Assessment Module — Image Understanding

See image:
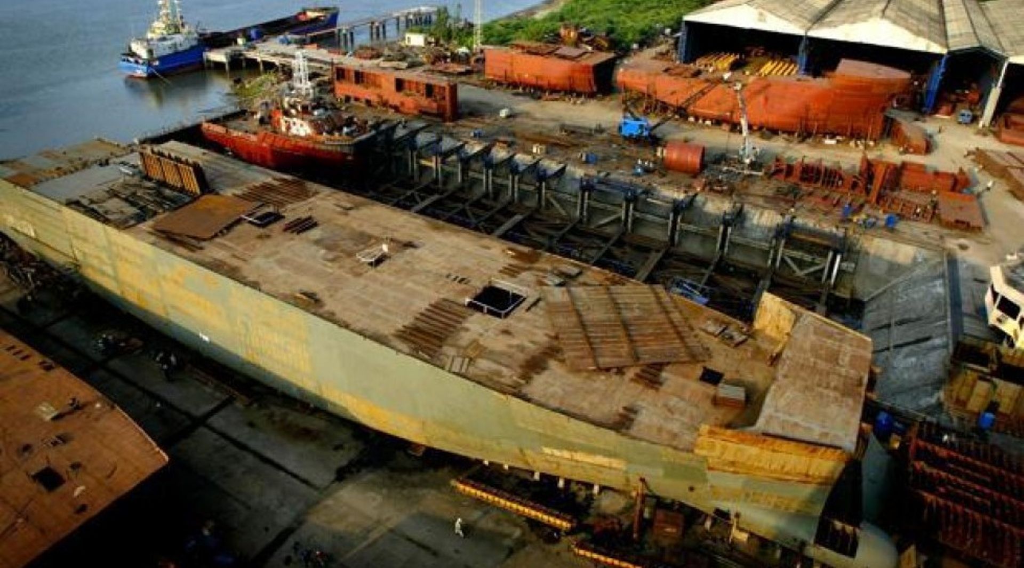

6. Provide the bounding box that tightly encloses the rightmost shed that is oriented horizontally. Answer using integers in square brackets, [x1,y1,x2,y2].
[676,0,950,111]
